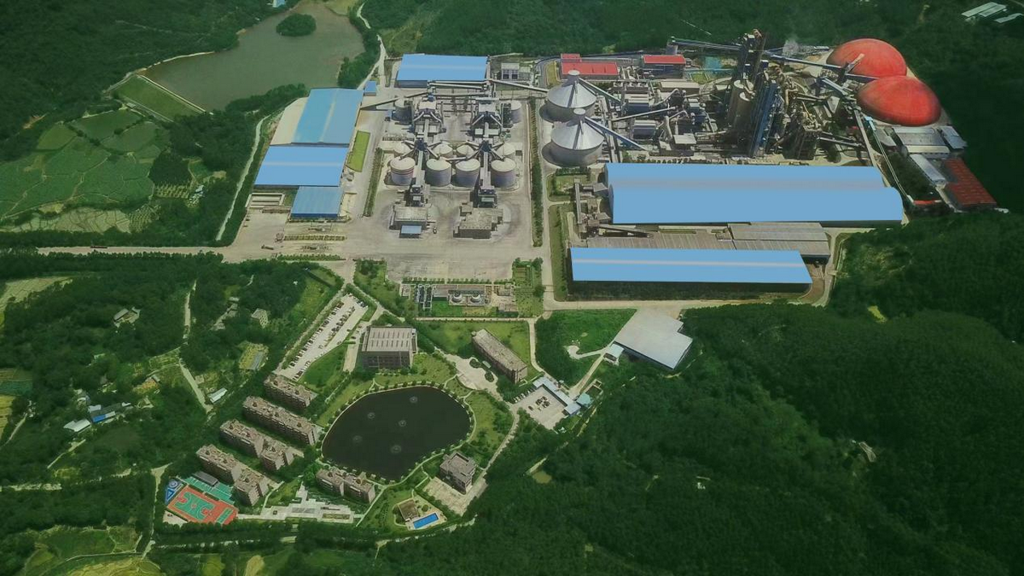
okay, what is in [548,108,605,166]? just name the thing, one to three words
silo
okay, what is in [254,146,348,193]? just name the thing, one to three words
building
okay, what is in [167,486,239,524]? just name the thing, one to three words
basketball court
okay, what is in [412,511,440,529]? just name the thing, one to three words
swimming pool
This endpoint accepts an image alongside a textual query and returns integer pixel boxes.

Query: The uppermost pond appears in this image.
[134,0,364,114]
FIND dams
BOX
[116,73,211,121]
